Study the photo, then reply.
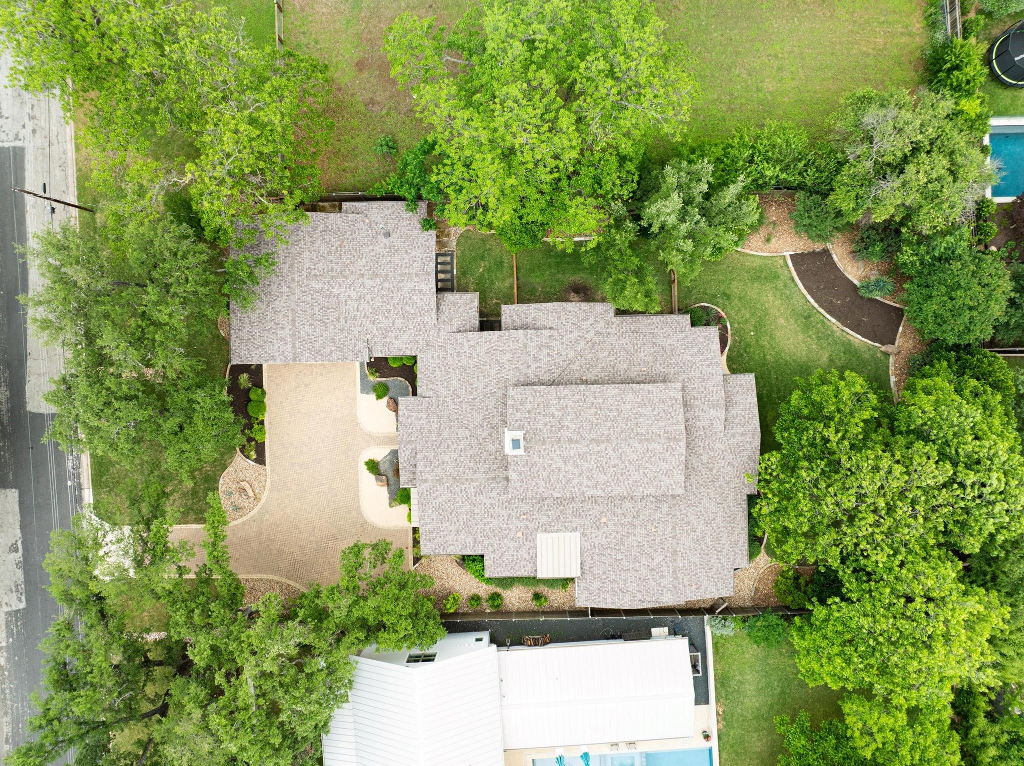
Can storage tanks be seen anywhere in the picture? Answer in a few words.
No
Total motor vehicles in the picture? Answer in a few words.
0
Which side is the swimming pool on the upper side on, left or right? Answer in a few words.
right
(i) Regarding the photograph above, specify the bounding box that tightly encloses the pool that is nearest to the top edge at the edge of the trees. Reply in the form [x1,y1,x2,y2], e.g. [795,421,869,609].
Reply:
[983,118,1024,203]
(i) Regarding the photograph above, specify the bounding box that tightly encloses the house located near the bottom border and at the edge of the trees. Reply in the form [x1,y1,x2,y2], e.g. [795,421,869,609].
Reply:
[323,632,695,766]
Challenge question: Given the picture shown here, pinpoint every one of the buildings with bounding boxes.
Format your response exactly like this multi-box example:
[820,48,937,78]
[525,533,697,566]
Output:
[228,201,760,609]
[323,632,695,766]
